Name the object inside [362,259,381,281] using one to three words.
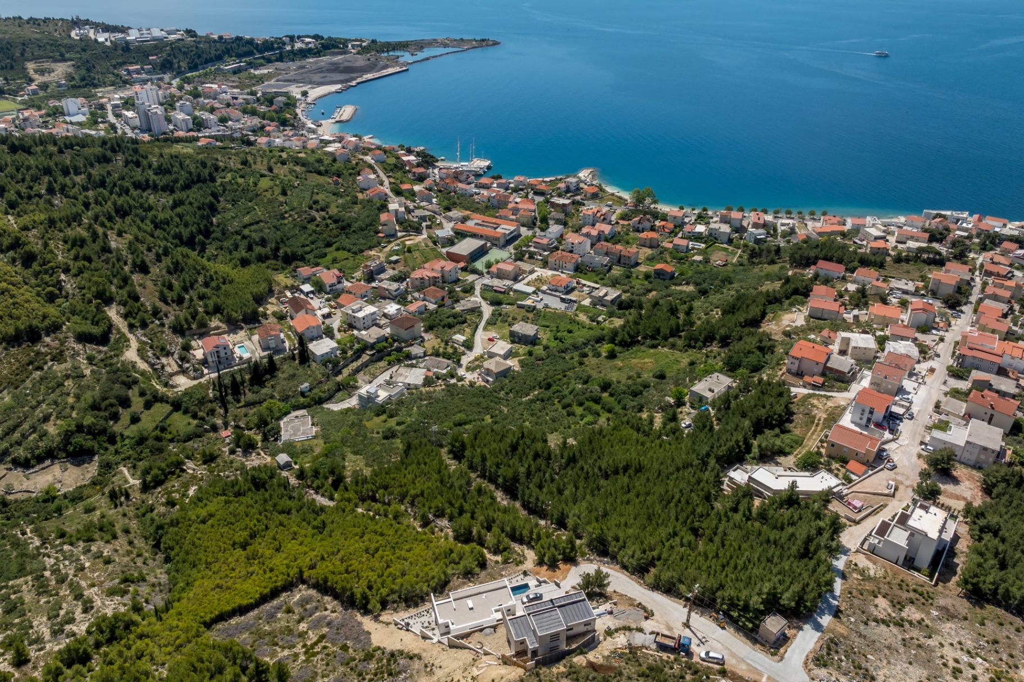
house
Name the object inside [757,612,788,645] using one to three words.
shed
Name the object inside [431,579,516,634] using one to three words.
house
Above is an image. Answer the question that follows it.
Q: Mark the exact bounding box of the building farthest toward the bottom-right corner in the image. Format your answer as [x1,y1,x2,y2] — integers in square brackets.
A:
[863,502,959,562]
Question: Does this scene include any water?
Yes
